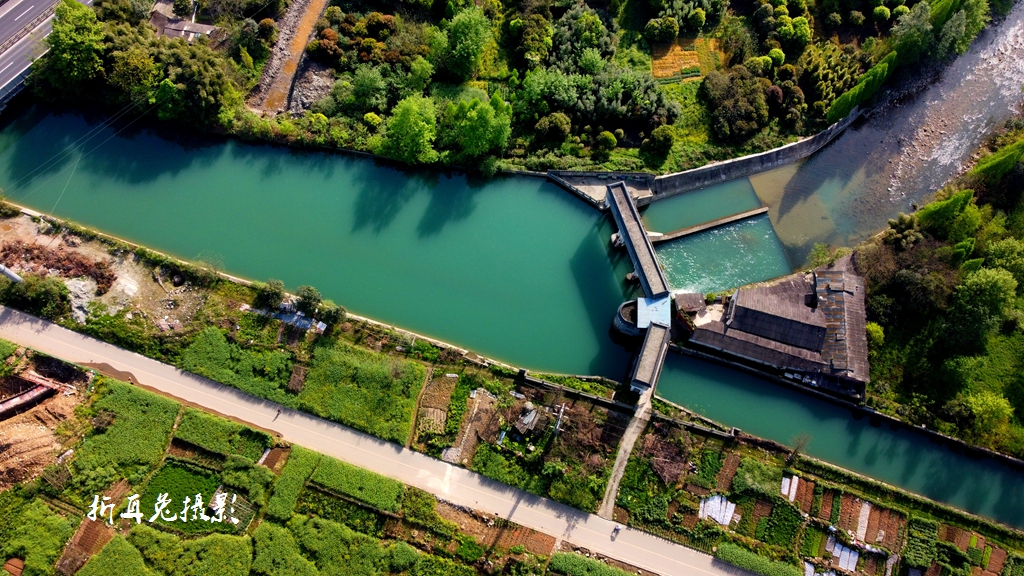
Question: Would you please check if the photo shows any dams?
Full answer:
Yes, the photo shows a dam.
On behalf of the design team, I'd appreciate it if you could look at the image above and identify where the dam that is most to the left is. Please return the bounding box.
[603,181,673,401]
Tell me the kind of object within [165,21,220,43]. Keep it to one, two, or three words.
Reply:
house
